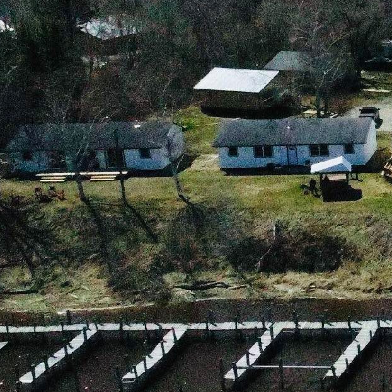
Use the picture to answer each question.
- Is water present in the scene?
Yes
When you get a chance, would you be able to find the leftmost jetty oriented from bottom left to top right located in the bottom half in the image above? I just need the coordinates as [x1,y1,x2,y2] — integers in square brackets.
[18,325,98,392]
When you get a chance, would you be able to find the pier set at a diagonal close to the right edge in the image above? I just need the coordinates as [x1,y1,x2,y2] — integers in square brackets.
[324,321,379,388]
